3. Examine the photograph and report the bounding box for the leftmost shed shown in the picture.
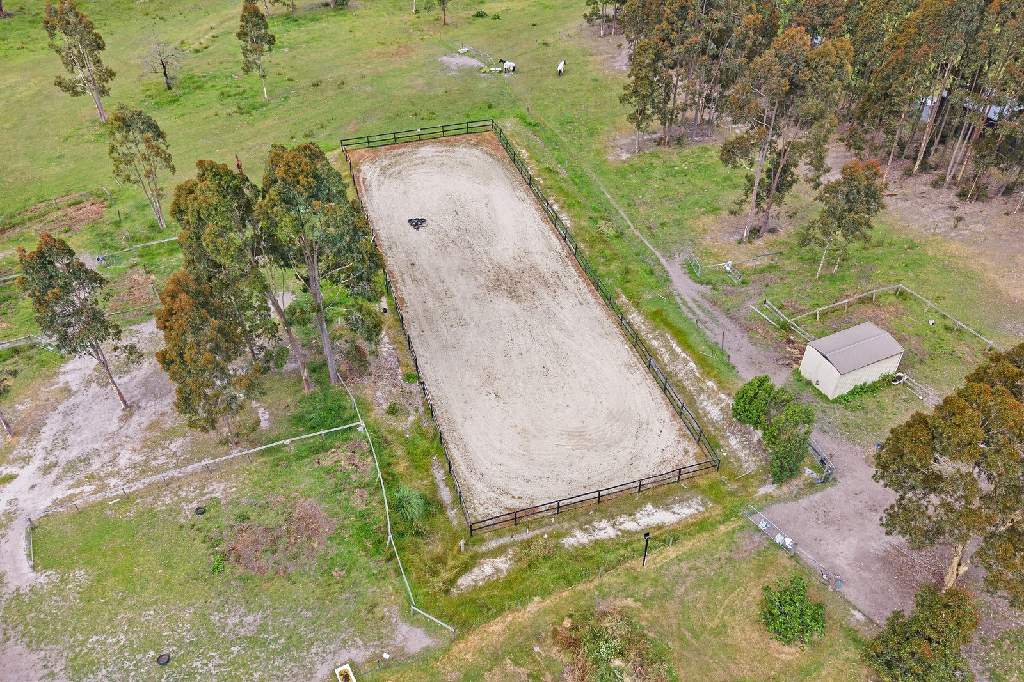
[798,322,907,400]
